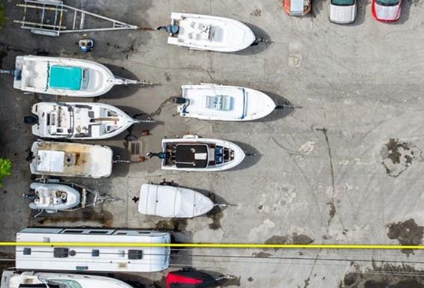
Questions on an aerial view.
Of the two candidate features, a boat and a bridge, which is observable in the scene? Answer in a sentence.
The image shows a boat.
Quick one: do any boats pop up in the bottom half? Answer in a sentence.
Yes, I can see a boat in the bottom half.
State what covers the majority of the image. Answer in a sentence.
For the most part, this view shows paved ground.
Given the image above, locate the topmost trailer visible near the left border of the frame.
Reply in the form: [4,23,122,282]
[19,0,147,35]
